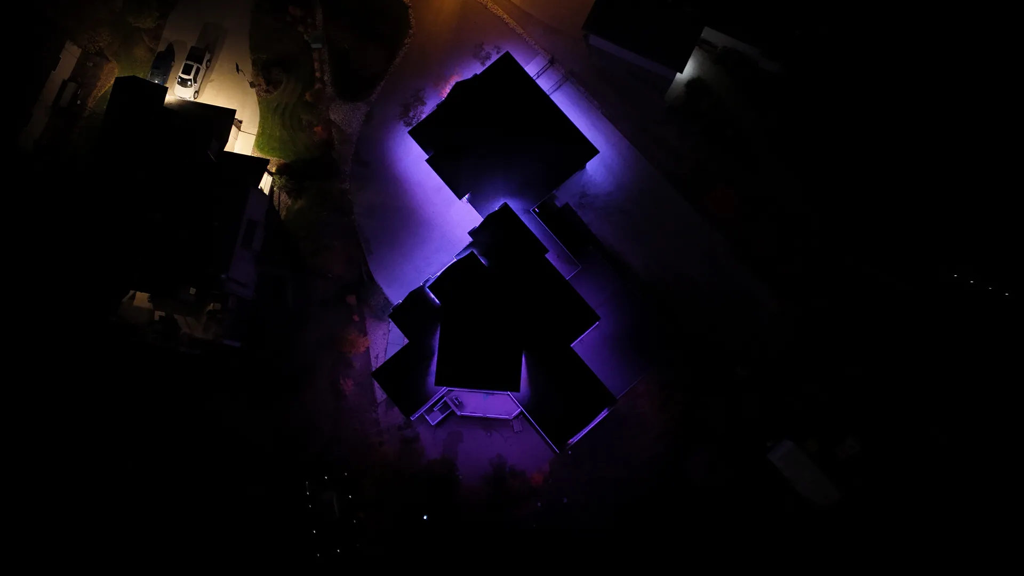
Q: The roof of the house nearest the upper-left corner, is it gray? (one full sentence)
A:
No, the roof of the house nearest the upper-left corner is black.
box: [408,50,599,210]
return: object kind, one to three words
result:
building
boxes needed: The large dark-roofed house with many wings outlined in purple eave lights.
[372,190,617,454]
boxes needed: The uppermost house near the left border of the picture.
[0,0,82,161]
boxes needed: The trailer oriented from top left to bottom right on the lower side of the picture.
[765,432,843,513]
